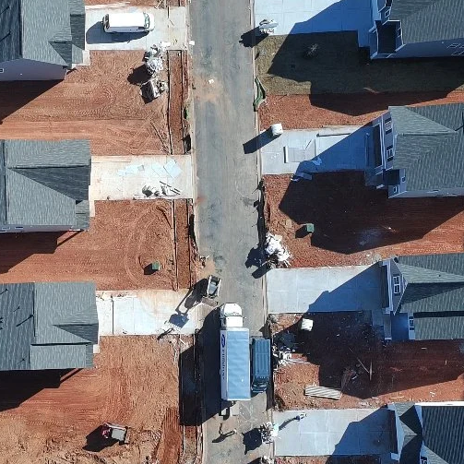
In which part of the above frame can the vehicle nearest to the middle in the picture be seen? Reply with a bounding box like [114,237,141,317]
[204,273,226,306]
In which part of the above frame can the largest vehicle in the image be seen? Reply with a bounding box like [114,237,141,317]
[221,298,257,417]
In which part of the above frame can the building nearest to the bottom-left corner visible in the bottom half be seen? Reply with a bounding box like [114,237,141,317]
[0,281,99,372]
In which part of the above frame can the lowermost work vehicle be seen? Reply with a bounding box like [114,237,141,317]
[95,422,130,445]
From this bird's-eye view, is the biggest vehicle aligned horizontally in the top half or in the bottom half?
top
